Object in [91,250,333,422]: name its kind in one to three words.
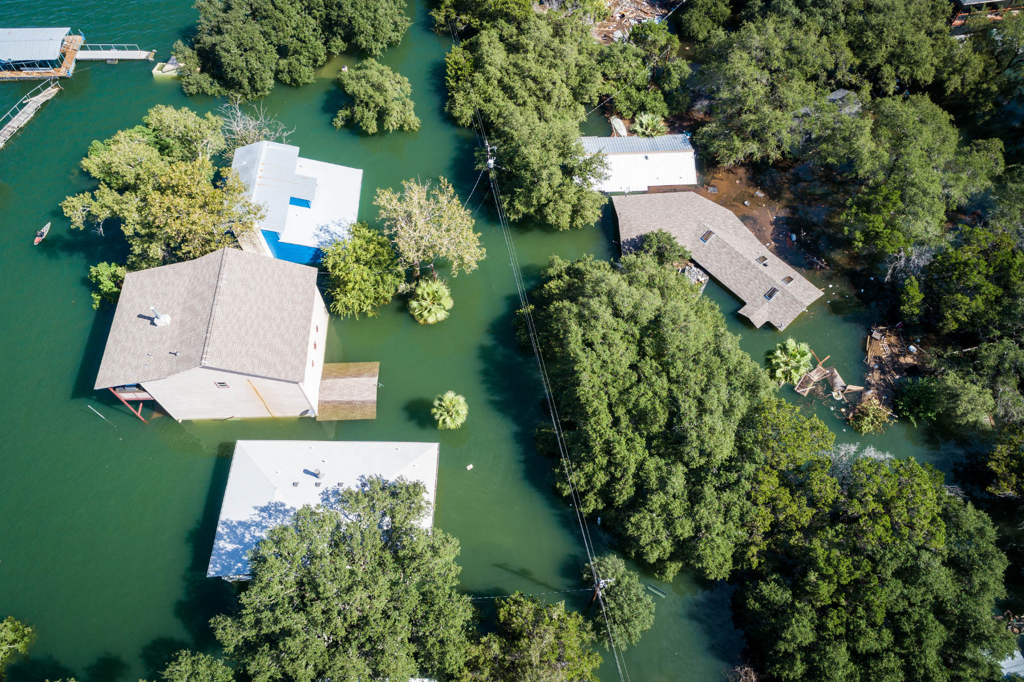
house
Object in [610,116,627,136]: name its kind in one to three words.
boat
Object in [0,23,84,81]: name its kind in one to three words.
pier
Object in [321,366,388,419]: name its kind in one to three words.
building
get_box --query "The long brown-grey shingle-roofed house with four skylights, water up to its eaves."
[611,185,825,332]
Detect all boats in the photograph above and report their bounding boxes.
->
[610,116,627,136]
[33,221,50,244]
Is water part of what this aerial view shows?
Yes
